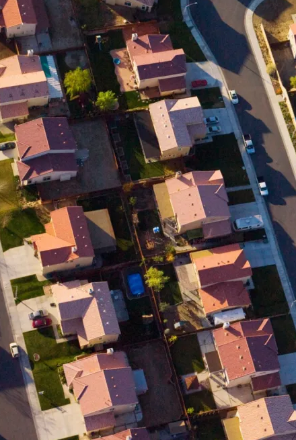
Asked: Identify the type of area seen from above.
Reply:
residential area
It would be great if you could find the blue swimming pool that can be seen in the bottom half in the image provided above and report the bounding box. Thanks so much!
[127,271,146,296]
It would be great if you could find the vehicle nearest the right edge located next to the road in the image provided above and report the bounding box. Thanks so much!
[256,177,269,197]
